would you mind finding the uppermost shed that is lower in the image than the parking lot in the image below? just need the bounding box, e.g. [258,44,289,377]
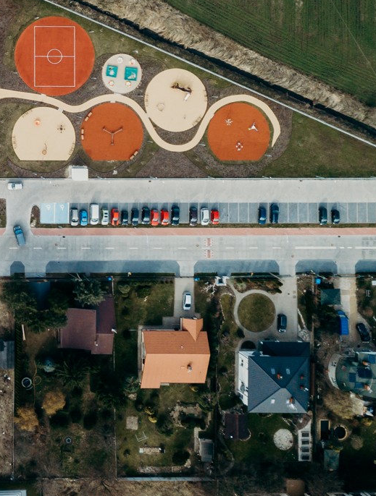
[316,287,341,306]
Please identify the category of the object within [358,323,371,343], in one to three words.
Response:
vehicle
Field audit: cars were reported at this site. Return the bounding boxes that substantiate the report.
[161,210,170,226]
[151,210,161,226]
[15,227,27,247]
[121,210,131,227]
[271,205,281,224]
[172,206,181,225]
[101,209,111,226]
[131,210,140,226]
[319,208,330,226]
[112,209,121,226]
[8,182,24,191]
[358,323,371,343]
[81,210,90,226]
[72,209,81,225]
[190,209,200,226]
[202,209,211,226]
[211,210,220,226]
[278,316,288,332]
[142,208,151,225]
[332,210,341,226]
[258,209,269,225]
[183,292,193,311]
